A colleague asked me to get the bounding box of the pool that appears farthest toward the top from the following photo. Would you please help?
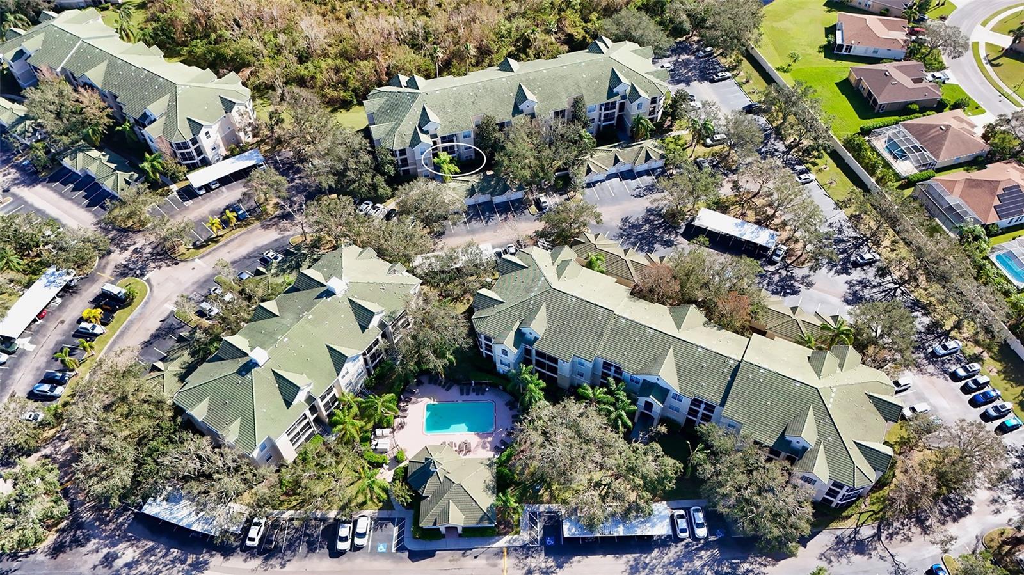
[889,143,912,161]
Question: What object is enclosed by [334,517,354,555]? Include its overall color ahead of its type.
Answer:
white vehicle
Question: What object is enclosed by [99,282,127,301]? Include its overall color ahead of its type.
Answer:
white vehicle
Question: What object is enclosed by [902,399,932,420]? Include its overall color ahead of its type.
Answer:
white car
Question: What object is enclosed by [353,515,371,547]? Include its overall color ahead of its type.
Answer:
white car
